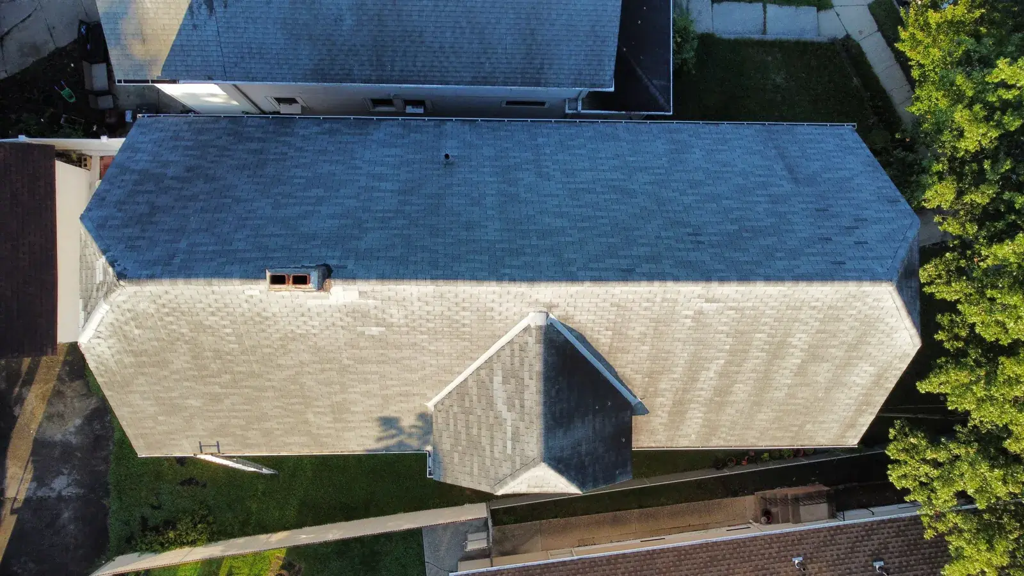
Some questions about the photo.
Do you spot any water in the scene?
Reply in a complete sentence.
No, water can't be seen anywhere here.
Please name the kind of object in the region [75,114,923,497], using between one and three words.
house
